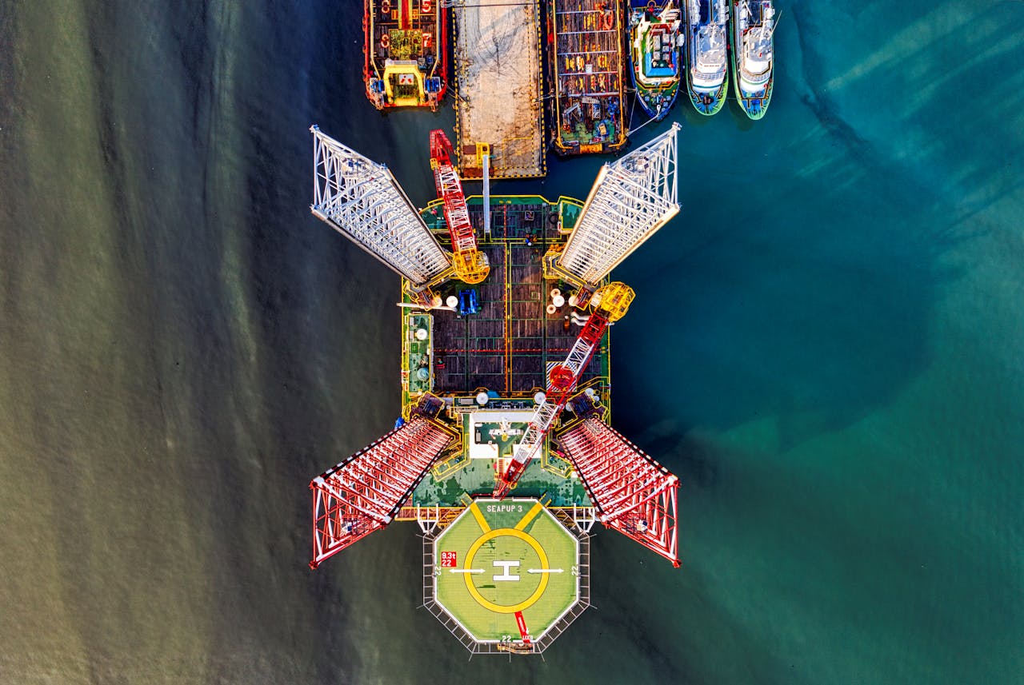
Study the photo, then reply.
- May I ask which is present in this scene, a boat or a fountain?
boat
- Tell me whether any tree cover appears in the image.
No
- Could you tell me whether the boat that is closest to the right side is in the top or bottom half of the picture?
top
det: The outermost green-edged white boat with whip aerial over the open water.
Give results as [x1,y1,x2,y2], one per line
[728,0,775,123]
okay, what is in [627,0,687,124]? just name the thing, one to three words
boat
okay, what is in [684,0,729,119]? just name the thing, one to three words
boat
